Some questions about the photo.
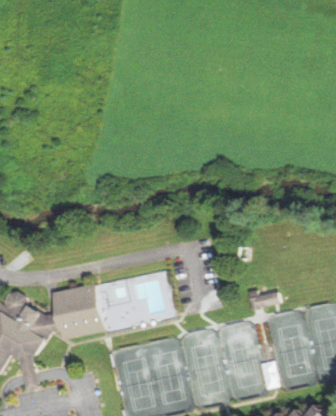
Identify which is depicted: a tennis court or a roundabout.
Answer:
tennis court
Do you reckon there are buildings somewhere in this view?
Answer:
Yes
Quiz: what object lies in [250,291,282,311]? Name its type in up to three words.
building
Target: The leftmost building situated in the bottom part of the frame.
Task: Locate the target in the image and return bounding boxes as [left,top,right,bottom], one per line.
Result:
[0,291,29,316]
